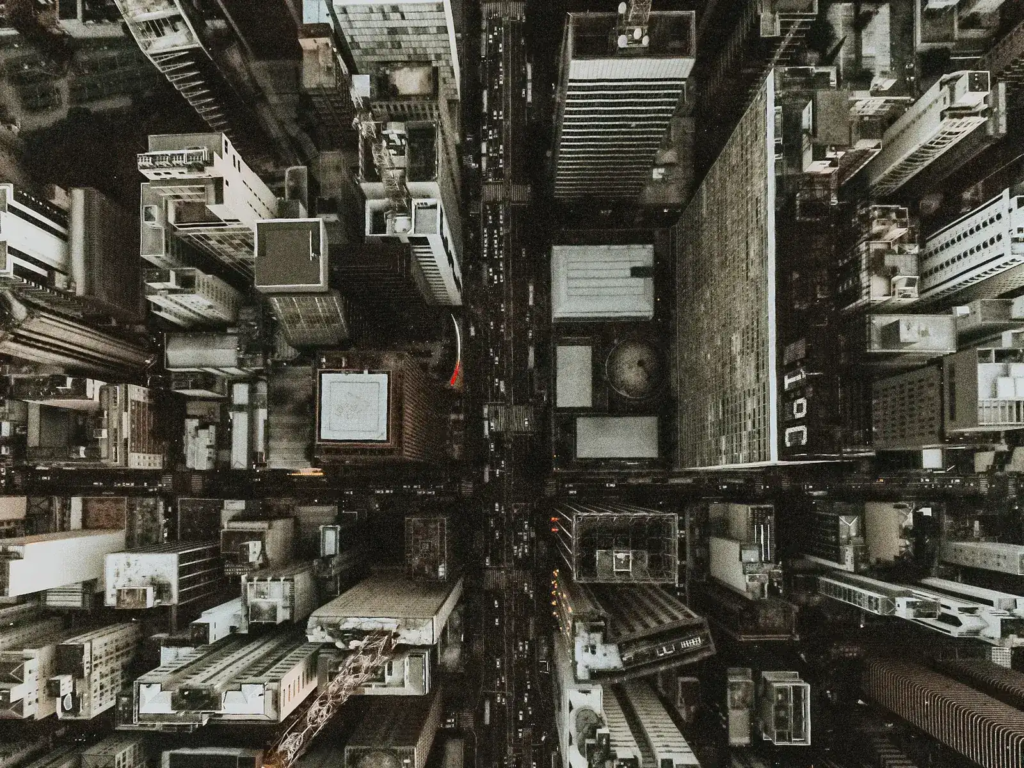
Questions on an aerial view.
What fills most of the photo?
buildings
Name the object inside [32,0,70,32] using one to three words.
house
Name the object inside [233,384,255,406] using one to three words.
shed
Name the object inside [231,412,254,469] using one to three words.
building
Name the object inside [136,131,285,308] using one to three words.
building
